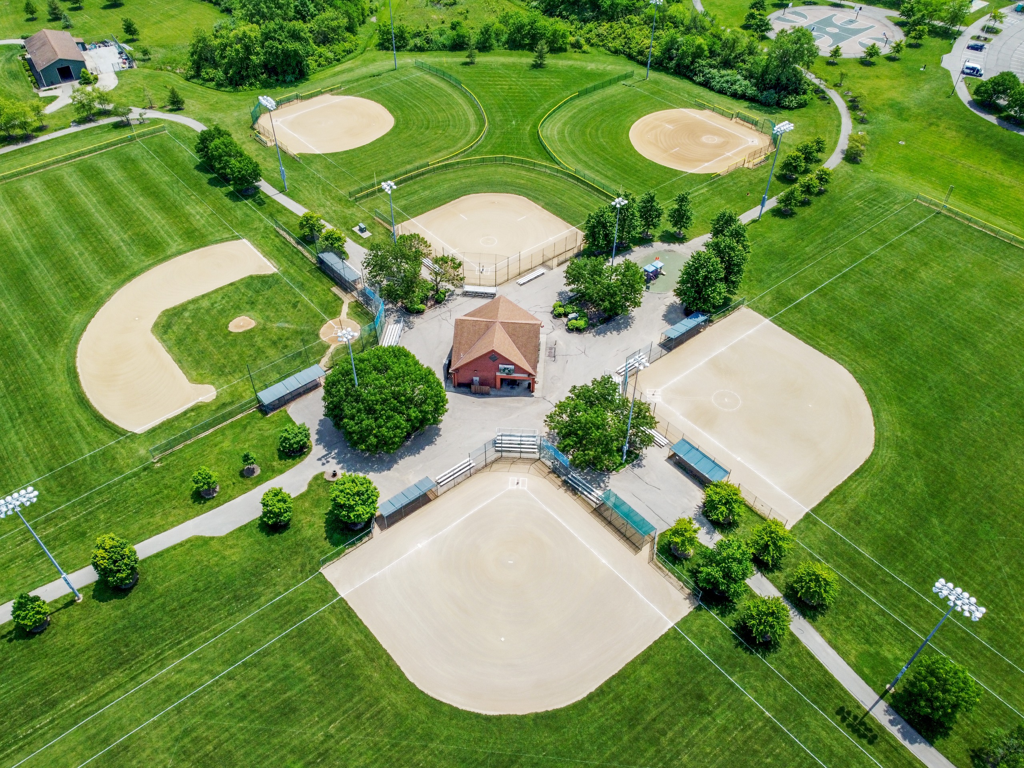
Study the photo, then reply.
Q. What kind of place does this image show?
sports ground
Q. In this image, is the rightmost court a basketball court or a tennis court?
basketball court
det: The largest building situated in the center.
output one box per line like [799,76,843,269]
[451,295,542,392]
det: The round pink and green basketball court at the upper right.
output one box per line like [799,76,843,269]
[767,6,906,58]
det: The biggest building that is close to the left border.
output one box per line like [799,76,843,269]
[23,29,89,87]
